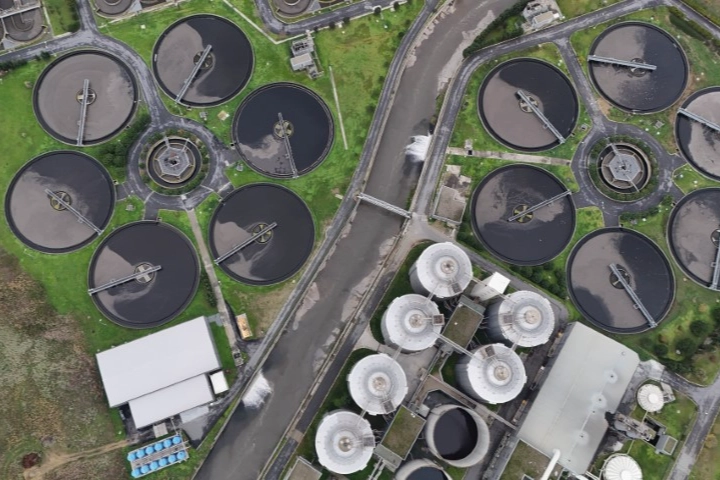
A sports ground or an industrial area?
industrial area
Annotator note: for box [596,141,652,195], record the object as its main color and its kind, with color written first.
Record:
gray water tank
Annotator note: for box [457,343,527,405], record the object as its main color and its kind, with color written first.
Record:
white storage tank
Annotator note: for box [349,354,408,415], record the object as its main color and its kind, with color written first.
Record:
white storage tank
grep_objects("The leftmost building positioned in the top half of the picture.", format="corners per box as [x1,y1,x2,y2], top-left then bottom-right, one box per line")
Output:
[291,29,323,81]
